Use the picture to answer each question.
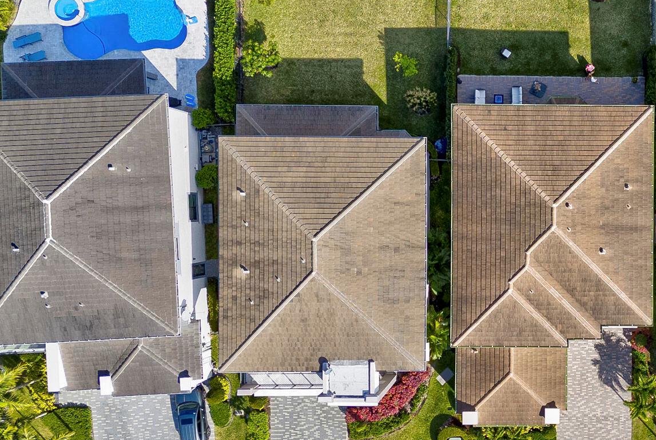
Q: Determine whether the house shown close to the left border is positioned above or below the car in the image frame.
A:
above it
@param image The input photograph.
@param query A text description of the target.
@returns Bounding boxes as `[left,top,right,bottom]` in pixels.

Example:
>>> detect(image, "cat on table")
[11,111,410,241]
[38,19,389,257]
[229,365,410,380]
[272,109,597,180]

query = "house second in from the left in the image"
[216,103,431,407]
